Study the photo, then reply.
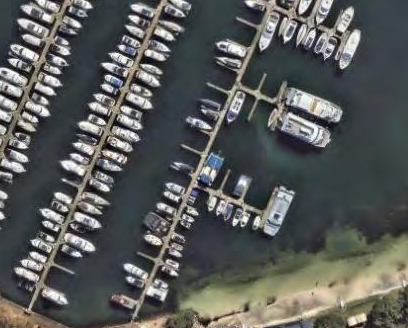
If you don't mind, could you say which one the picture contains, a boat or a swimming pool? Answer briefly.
boat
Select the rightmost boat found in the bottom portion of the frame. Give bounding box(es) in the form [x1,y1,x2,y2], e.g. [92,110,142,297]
[265,186,295,235]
